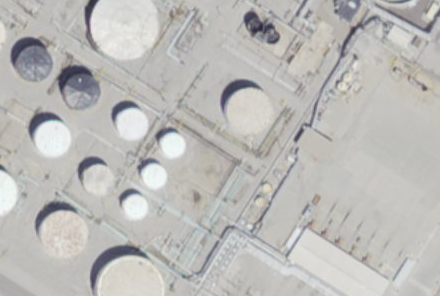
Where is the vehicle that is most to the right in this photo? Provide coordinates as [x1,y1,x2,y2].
[408,76,426,90]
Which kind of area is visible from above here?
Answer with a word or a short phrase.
industrial area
